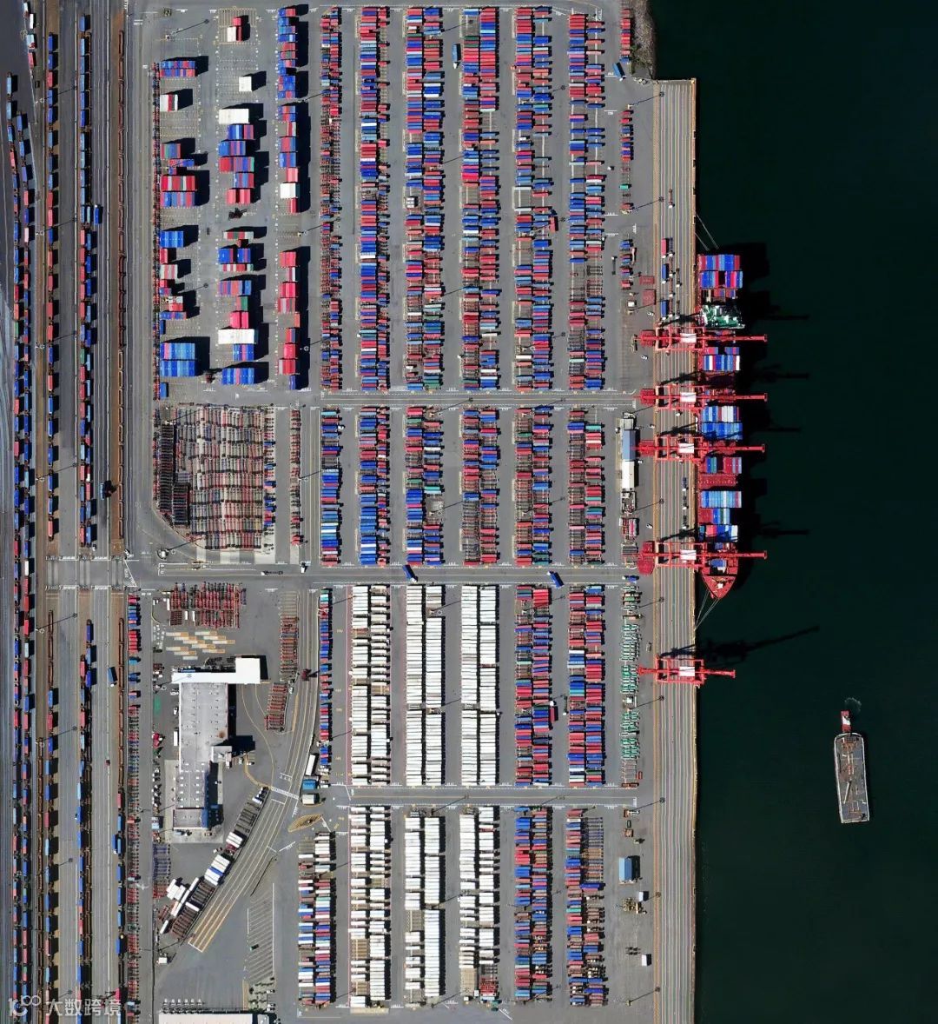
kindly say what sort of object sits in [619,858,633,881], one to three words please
shed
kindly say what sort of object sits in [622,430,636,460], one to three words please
building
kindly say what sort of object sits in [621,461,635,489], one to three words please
building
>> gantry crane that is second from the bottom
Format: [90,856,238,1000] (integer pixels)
[639,539,768,571]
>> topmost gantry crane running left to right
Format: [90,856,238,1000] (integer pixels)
[639,322,768,355]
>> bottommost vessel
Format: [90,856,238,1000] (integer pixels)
[835,733,869,823]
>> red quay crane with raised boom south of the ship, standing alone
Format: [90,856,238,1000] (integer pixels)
[639,654,739,687]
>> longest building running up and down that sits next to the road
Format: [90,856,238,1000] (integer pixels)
[172,658,261,827]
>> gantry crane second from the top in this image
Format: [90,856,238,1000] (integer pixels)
[639,381,768,414]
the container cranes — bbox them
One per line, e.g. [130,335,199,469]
[639,432,766,465]
[639,322,768,355]
[639,381,768,414]
[639,539,768,571]
[639,654,739,687]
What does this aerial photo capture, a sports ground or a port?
port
